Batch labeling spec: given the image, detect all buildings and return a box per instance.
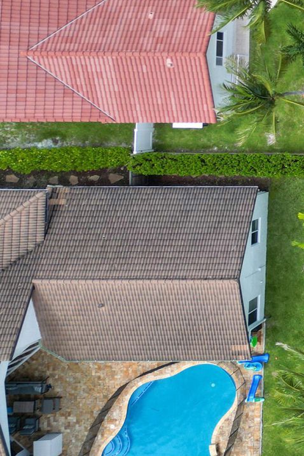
[0,182,268,456]
[0,0,236,129]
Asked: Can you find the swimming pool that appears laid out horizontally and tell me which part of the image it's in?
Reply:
bottom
